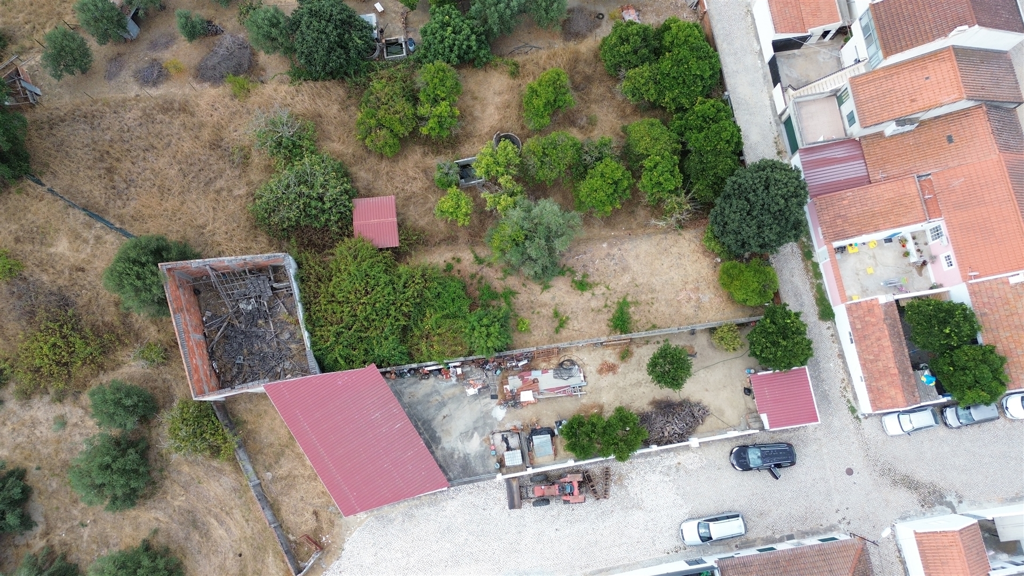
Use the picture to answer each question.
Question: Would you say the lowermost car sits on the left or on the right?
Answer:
right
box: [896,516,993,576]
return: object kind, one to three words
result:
house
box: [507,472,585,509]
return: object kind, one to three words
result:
work vehicle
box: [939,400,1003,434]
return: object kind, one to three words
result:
car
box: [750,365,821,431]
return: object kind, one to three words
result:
shed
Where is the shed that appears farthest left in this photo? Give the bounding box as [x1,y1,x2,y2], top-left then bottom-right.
[0,54,42,104]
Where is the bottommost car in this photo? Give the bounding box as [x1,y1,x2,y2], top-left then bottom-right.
[679,511,749,547]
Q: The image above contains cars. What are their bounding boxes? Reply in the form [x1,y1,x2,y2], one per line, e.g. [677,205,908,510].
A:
[729,442,798,481]
[998,392,1024,417]
[679,511,749,547]
[878,406,942,437]
[939,400,1003,434]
